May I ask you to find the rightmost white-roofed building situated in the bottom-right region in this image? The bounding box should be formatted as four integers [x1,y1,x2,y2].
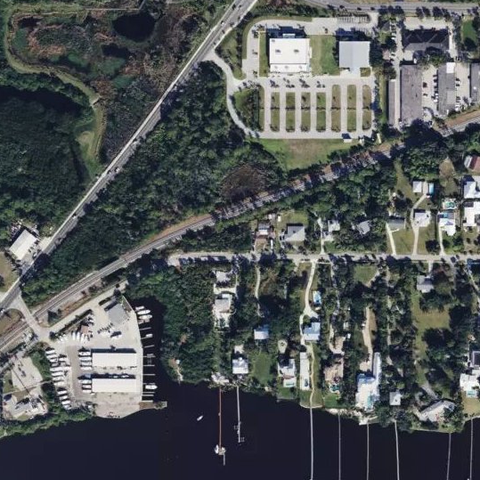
[460,366,480,391]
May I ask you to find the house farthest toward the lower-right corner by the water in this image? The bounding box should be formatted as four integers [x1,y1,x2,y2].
[419,401,456,429]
